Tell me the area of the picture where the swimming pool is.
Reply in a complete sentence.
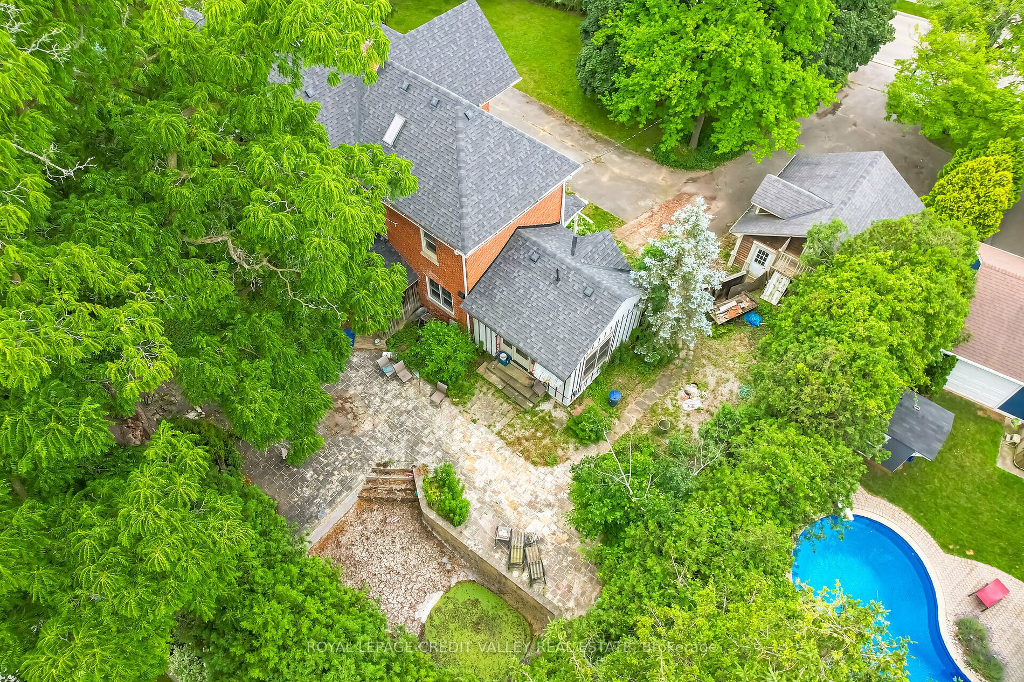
The swimming pool appears toward the bottom right of the photo.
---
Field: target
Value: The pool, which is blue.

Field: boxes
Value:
[783,506,981,682]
